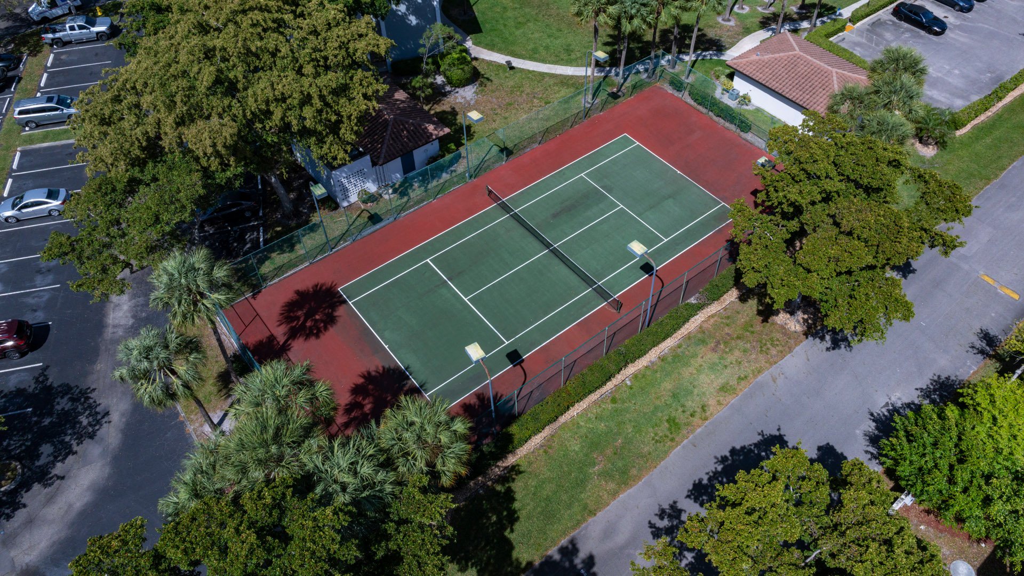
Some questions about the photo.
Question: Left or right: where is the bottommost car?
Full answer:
It is on the left.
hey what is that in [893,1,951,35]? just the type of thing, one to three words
car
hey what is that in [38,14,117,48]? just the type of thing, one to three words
truck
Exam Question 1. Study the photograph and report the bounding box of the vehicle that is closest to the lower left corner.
[0,319,32,362]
